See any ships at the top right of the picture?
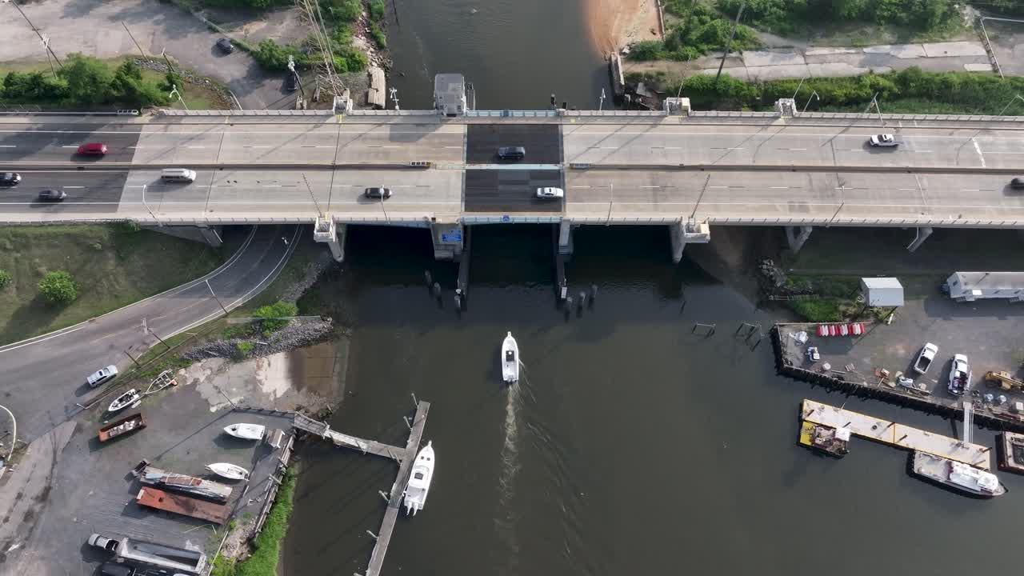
No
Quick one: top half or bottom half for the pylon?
top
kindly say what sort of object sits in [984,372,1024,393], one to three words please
work vehicle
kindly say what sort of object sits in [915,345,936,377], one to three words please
truck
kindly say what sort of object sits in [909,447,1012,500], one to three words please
boat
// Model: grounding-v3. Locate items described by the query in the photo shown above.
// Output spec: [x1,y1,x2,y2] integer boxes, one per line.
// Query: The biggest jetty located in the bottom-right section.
[797,399,997,467]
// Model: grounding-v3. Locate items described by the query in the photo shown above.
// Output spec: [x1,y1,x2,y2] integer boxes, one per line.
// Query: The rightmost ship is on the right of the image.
[997,432,1024,479]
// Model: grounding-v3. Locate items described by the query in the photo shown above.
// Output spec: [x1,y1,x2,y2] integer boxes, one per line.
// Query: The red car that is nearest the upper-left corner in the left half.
[76,144,105,157]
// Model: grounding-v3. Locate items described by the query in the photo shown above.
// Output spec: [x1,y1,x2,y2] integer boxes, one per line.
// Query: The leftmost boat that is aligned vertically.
[403,441,433,515]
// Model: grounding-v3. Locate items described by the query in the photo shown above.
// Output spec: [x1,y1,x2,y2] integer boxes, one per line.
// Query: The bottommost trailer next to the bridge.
[938,271,1024,303]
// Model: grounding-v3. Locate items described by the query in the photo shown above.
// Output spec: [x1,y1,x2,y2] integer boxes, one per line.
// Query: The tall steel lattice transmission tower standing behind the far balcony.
[285,0,343,105]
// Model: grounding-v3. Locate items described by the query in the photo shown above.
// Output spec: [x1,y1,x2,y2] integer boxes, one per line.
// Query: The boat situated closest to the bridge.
[502,333,519,384]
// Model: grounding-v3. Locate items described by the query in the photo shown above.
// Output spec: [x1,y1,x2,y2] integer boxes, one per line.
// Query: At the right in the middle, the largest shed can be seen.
[848,277,905,319]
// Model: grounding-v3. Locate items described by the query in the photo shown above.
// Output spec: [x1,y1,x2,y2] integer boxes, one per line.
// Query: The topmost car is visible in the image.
[213,40,236,52]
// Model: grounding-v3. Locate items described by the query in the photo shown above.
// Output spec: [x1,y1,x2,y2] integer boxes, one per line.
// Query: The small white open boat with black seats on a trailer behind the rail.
[107,389,140,413]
